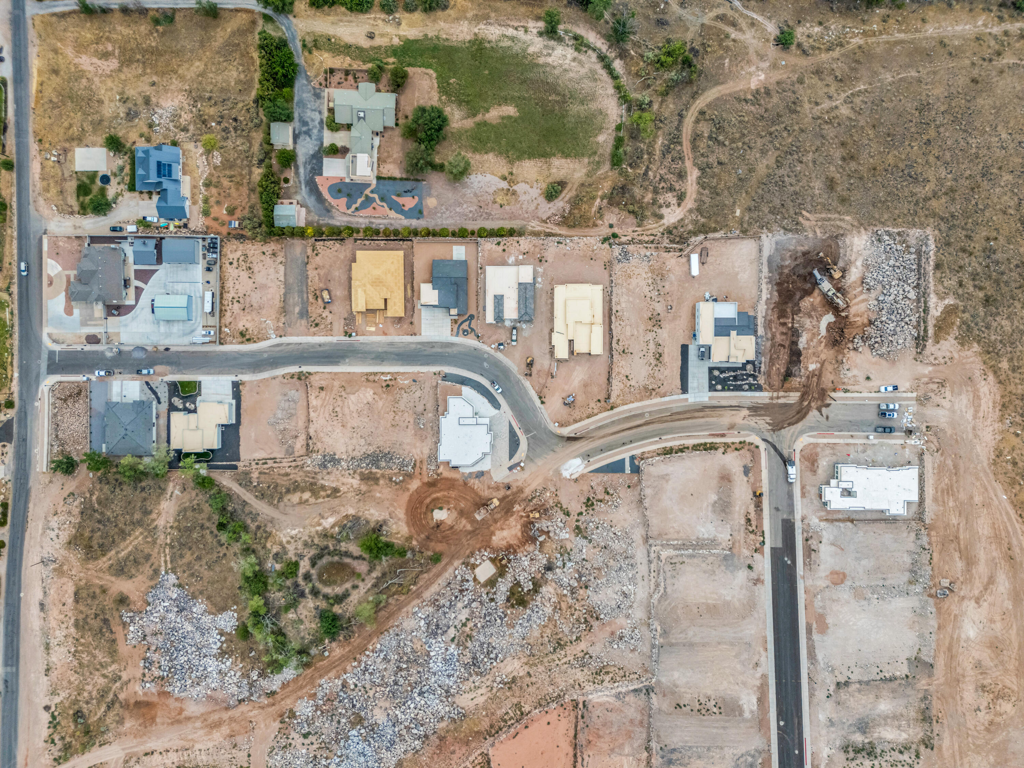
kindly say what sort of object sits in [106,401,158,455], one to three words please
house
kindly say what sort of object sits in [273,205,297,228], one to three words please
shed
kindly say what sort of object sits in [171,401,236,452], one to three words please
house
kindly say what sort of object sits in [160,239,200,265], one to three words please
building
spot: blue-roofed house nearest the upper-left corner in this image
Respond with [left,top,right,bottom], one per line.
[134,143,190,220]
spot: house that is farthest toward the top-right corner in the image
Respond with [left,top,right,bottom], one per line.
[694,302,755,363]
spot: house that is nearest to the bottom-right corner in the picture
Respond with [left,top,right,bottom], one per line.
[819,463,918,514]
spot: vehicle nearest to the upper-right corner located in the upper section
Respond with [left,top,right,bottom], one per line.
[818,250,843,280]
